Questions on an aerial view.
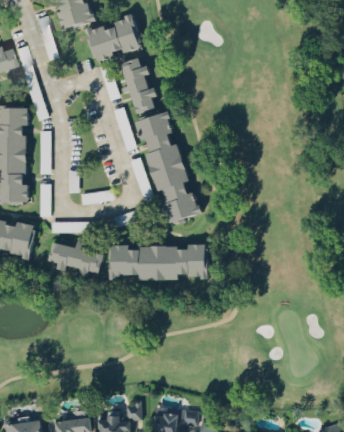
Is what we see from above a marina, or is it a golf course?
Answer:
golf course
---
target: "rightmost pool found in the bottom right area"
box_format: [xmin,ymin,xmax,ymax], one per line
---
[296,418,322,432]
